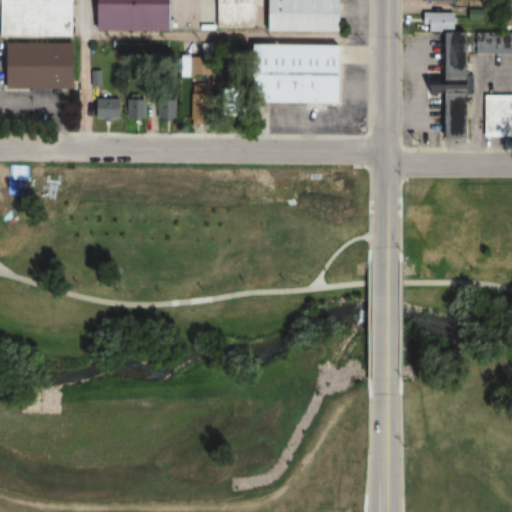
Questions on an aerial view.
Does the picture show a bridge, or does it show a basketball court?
bridge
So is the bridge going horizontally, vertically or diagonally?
vertically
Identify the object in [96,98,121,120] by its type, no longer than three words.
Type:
house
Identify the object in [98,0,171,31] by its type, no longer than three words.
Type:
shed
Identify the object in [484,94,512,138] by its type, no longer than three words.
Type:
building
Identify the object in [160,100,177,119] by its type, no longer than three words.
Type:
house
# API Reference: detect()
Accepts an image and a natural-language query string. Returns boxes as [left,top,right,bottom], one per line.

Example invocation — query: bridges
[368,250,404,394]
